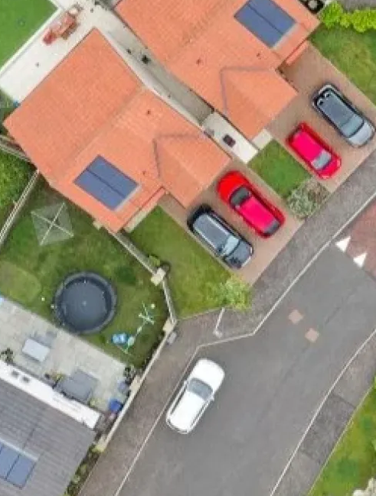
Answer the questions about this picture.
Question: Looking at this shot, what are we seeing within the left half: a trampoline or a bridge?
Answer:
trampoline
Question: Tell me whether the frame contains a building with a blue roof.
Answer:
No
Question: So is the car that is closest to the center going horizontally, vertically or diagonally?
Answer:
diagonally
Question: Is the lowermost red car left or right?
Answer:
right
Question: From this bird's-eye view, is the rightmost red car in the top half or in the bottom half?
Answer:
top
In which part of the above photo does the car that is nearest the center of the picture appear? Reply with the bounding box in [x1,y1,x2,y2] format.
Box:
[182,202,257,273]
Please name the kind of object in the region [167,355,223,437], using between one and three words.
car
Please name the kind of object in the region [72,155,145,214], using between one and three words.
solar array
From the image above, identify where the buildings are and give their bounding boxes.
[3,26,234,235]
[113,0,322,140]
[0,359,103,496]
